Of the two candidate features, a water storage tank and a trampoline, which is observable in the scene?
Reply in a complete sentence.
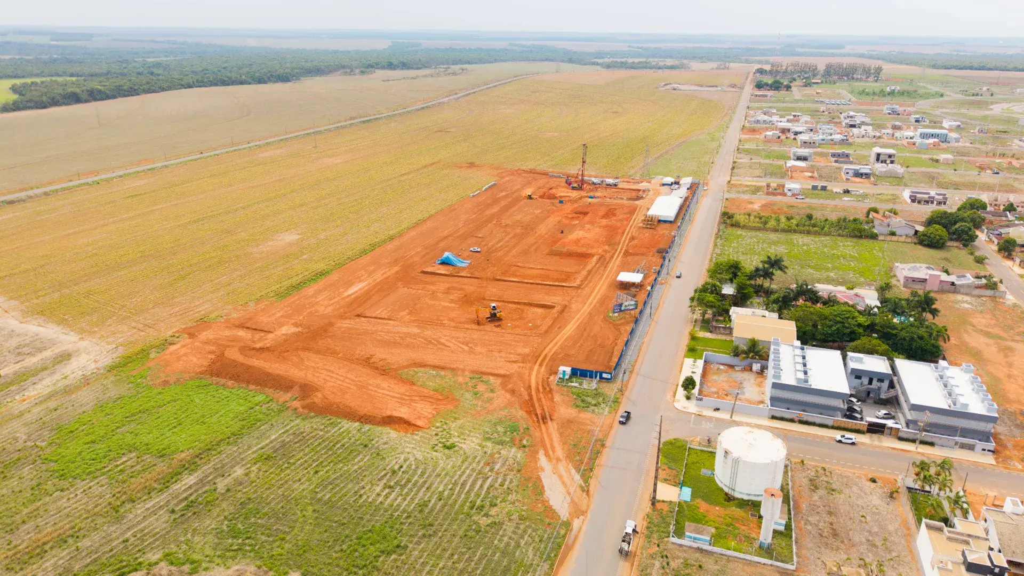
This aerial view contains a water storage tank.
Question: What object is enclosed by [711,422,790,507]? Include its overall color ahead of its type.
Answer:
white water tank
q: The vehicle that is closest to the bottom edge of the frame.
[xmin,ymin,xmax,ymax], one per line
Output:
[617,515,645,556]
